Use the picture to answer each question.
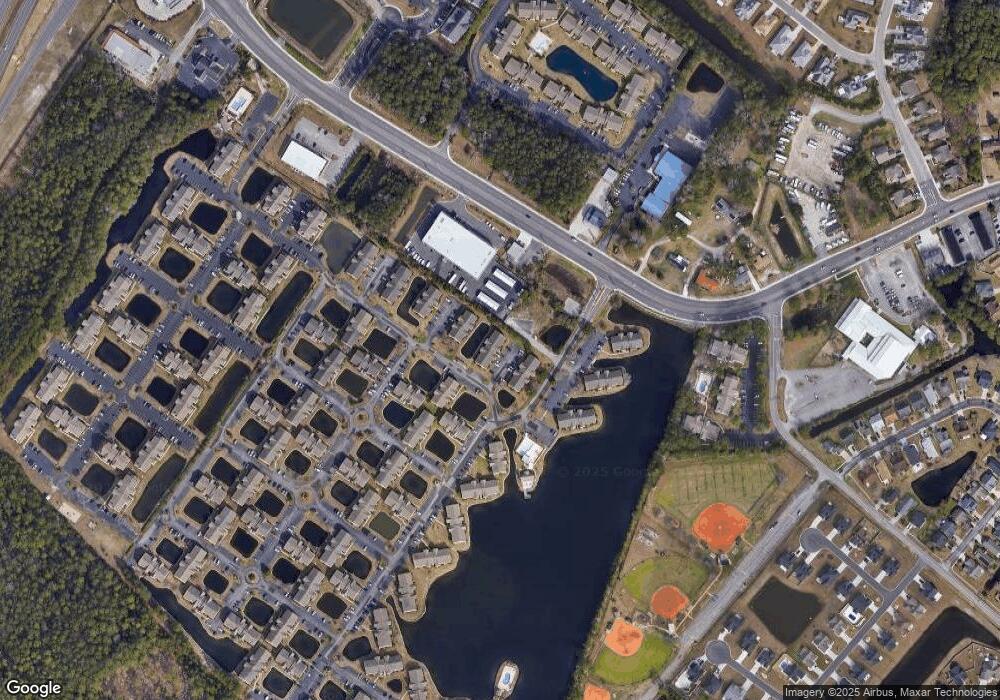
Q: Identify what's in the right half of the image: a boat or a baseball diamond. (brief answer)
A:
baseball diamond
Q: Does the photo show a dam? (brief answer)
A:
No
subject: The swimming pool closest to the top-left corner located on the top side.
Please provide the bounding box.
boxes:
[228,87,254,118]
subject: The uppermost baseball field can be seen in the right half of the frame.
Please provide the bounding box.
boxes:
[654,455,779,555]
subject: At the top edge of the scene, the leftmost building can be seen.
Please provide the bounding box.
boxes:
[104,30,161,81]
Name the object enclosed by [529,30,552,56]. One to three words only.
swimming pool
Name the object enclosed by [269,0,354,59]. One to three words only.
pond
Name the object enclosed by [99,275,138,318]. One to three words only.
building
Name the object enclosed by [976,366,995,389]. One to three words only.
house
